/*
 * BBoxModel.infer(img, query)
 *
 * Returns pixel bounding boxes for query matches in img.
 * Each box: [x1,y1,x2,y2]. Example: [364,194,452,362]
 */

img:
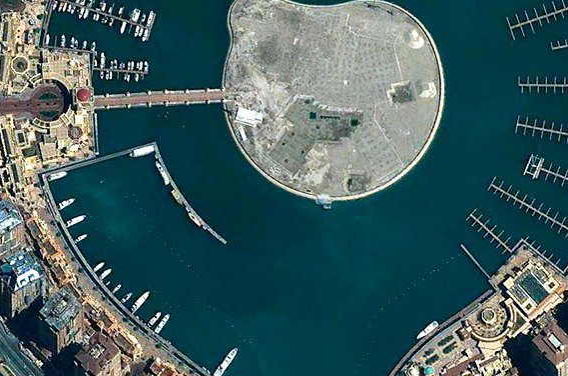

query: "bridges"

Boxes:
[91,86,228,109]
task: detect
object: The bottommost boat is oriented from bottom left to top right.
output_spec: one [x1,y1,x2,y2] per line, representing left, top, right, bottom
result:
[214,351,234,376]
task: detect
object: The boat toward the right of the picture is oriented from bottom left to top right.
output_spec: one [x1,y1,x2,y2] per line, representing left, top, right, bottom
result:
[420,321,440,337]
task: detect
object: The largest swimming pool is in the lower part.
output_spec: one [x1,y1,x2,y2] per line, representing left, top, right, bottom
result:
[520,275,549,305]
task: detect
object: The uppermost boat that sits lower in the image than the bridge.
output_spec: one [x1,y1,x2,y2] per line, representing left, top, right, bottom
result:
[132,142,157,156]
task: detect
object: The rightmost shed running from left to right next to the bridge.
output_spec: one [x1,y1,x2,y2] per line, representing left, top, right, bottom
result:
[234,108,263,126]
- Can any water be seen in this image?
Yes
